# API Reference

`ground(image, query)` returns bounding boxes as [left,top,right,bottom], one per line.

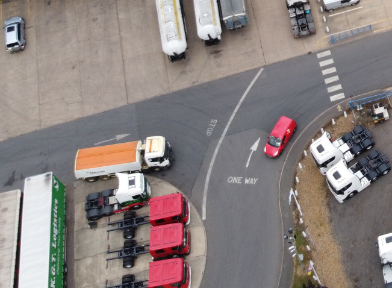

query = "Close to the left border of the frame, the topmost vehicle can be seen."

[2,16,26,53]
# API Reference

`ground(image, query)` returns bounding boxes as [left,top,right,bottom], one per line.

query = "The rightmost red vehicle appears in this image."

[262,113,302,158]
